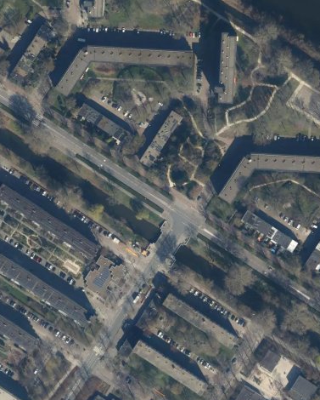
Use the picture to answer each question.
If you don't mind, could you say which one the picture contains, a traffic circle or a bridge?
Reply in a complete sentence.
The image shows a bridge.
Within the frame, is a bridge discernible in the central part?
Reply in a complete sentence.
Yes, looking in the central part, one can make out a bridge.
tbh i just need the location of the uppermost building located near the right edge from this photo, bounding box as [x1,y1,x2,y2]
[218,153,320,202]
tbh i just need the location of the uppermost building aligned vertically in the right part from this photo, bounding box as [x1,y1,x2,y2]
[213,32,238,104]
